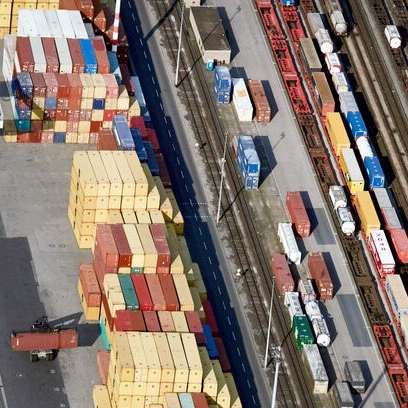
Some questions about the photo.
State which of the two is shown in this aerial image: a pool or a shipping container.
shipping container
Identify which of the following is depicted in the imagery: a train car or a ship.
train car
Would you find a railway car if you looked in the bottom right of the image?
Yes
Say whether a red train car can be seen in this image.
Yes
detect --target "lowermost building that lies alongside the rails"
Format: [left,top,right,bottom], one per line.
[190,6,233,65]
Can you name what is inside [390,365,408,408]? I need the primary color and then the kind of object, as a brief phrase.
red rail car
